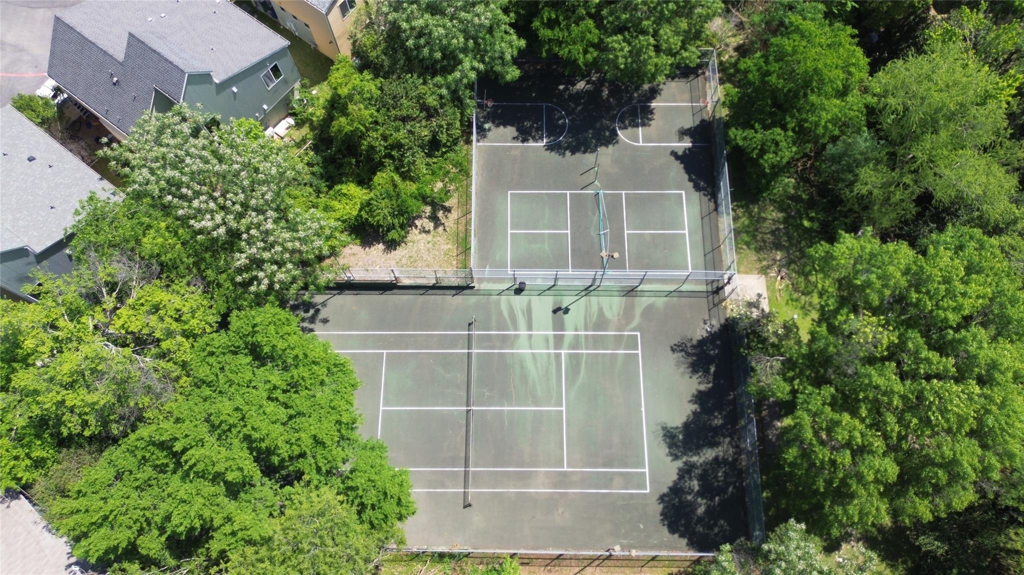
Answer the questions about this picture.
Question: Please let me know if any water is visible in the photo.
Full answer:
No, there's no water in this view.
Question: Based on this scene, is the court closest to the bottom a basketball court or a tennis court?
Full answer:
The court closest to the bottom in the image is a tennis court.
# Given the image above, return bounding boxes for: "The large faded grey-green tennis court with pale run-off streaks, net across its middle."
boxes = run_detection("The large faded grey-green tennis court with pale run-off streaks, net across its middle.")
[268,286,746,549]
